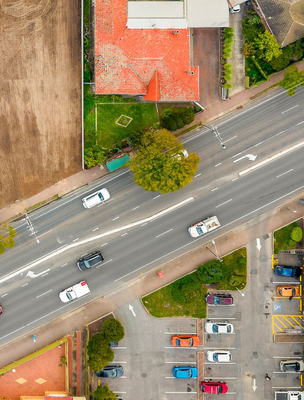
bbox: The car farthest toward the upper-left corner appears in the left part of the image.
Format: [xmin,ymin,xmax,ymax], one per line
[82,188,109,209]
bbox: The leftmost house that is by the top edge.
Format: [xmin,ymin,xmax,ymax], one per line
[94,0,229,102]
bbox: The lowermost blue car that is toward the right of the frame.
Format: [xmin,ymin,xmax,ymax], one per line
[172,365,197,379]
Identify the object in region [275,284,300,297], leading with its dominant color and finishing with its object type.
orange vehicle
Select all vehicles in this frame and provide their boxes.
[275,389,304,400]
[200,380,228,394]
[76,251,105,270]
[96,365,123,378]
[82,188,109,209]
[280,359,304,372]
[172,365,197,379]
[171,334,198,348]
[206,320,232,333]
[205,292,233,306]
[60,280,92,302]
[207,349,231,362]
[275,284,300,297]
[274,264,302,278]
[107,339,123,351]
